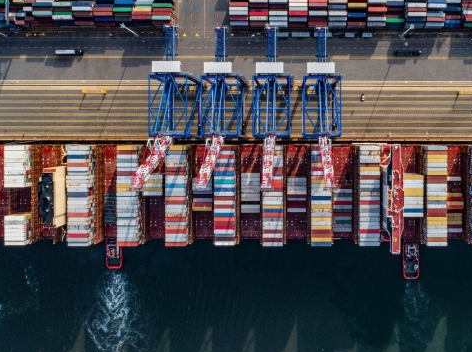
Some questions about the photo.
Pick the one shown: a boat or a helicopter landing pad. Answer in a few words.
boat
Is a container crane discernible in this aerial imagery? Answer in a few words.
Yes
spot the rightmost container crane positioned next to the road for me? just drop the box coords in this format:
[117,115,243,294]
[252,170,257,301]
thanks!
[298,20,343,191]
